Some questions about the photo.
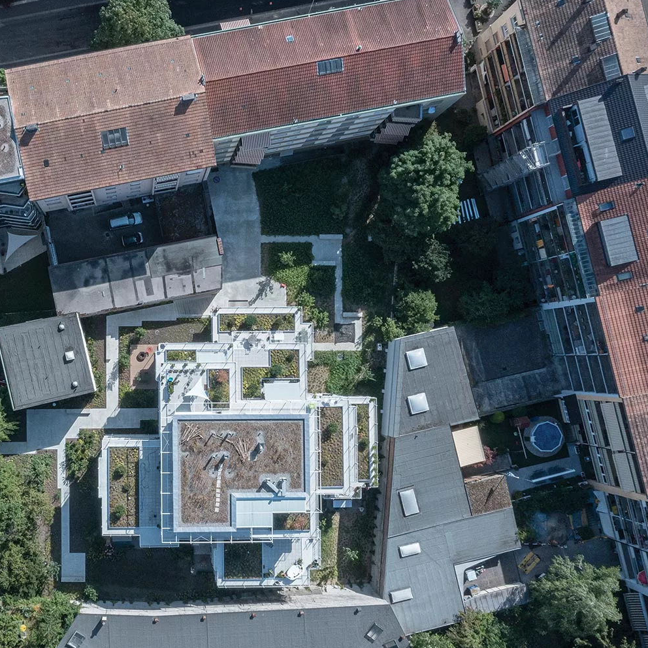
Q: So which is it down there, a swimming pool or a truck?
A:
swimming pool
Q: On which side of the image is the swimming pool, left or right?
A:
right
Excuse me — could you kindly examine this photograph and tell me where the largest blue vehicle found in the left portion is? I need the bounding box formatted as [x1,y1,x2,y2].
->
[108,211,144,229]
